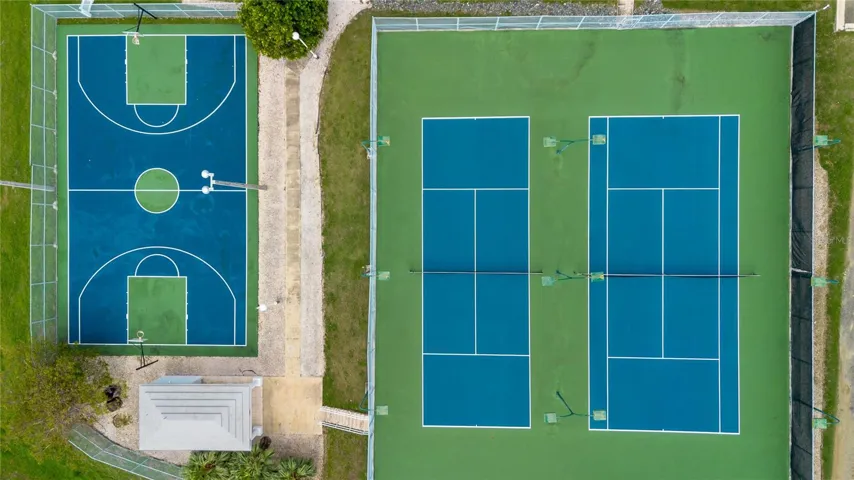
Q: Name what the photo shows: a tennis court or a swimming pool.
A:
tennis court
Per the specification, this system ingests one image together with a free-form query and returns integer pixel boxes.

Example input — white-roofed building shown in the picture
[139,375,262,450]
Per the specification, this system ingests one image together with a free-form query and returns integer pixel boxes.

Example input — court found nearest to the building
[57,23,259,357]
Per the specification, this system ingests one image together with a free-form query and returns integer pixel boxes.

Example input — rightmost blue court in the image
[589,114,740,435]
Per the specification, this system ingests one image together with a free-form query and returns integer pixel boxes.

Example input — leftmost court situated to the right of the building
[422,116,531,430]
